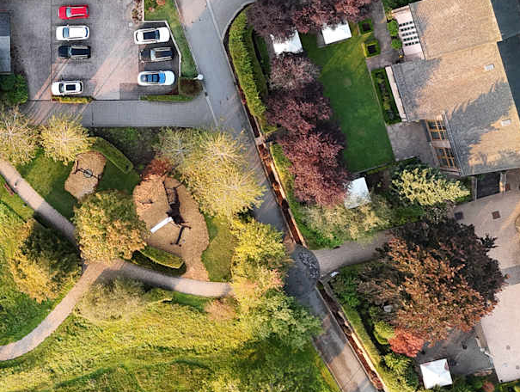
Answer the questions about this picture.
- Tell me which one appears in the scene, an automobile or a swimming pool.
automobile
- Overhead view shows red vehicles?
Yes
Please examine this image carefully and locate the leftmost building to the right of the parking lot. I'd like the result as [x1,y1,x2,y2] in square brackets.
[265,29,303,58]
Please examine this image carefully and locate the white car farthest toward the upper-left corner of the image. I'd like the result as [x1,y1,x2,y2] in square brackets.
[56,25,89,41]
